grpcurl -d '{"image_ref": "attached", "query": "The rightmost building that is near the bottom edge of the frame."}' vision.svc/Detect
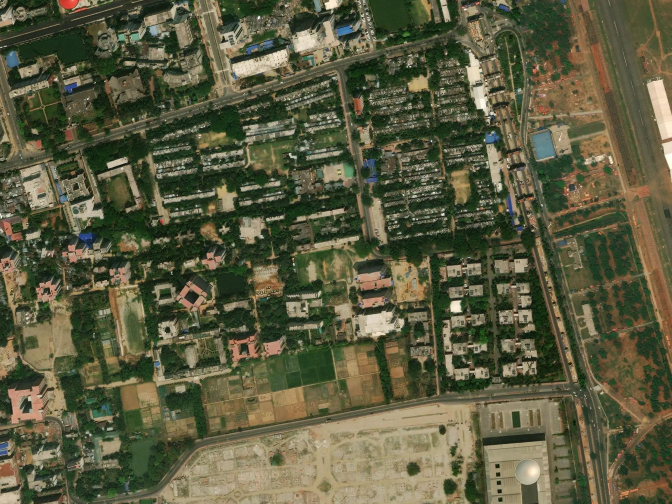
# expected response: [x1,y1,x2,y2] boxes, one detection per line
[483,437,554,504]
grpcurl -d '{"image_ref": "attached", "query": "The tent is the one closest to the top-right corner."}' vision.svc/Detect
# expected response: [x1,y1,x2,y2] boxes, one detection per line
[647,79,672,139]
